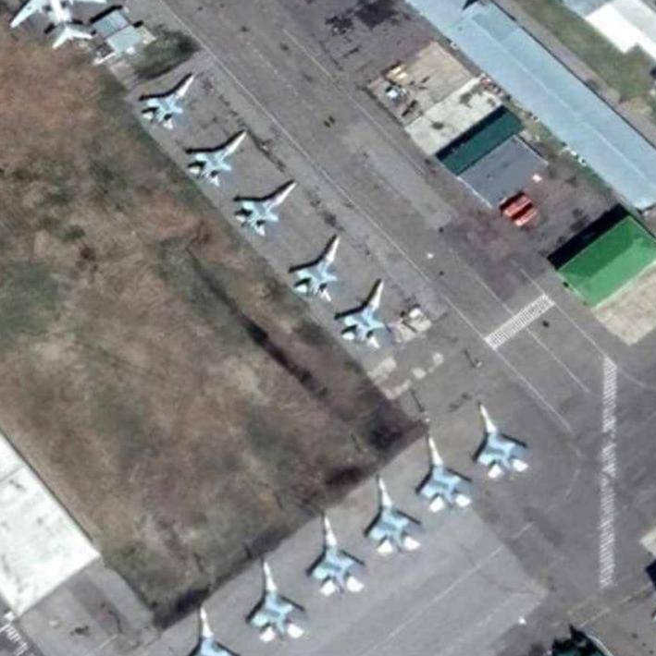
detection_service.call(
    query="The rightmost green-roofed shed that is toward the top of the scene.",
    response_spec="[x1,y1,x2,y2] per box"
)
[558,214,656,308]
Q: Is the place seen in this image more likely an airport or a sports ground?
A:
airport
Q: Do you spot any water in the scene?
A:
No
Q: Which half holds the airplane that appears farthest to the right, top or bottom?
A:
bottom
